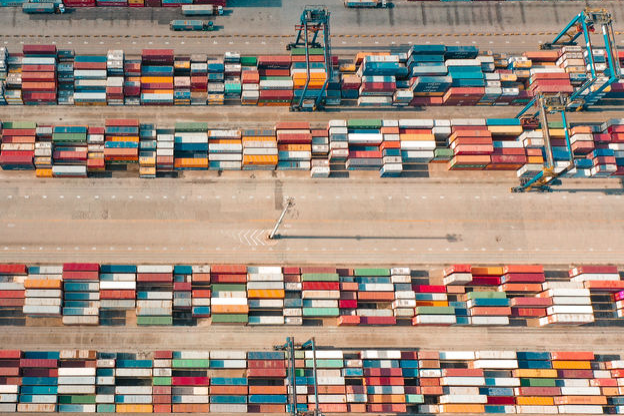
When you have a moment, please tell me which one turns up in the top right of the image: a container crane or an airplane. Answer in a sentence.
The feature located in the top right of the image is a container crane.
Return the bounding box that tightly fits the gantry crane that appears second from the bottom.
[506,94,572,191]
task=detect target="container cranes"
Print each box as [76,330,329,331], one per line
[287,10,330,111]
[548,12,620,111]
[506,94,572,191]
[273,334,319,416]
